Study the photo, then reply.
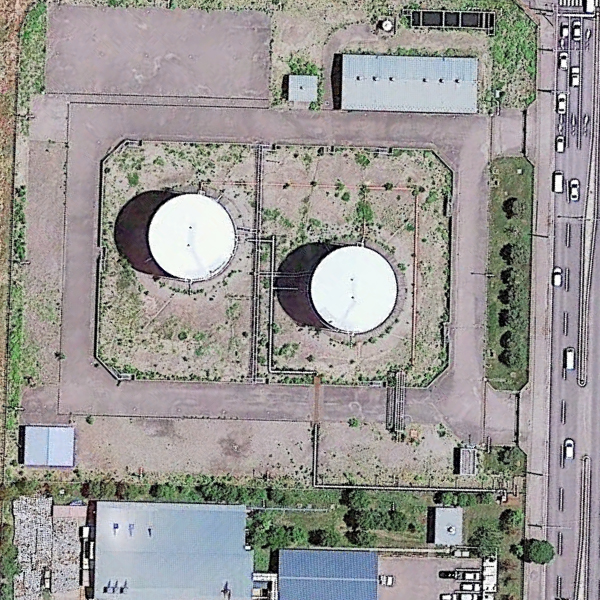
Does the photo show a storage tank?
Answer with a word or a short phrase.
Yes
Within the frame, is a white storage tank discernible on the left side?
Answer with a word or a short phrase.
Yes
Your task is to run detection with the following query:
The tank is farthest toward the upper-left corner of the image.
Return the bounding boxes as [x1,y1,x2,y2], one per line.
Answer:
[144,188,243,286]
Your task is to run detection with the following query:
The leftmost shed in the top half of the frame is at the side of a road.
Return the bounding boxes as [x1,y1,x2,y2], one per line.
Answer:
[289,74,317,102]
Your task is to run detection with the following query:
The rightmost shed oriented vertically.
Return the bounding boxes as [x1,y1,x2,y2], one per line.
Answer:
[483,558,497,592]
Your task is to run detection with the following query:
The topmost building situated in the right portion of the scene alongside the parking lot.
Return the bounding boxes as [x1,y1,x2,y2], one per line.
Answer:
[435,507,462,545]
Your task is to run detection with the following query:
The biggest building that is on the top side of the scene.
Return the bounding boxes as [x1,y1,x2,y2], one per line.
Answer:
[342,54,478,114]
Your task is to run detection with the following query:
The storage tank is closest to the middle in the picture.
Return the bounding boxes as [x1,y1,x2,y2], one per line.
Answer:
[304,240,403,338]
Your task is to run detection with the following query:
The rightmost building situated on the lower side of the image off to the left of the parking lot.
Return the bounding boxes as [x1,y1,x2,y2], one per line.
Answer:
[278,549,378,600]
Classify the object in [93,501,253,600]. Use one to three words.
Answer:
building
